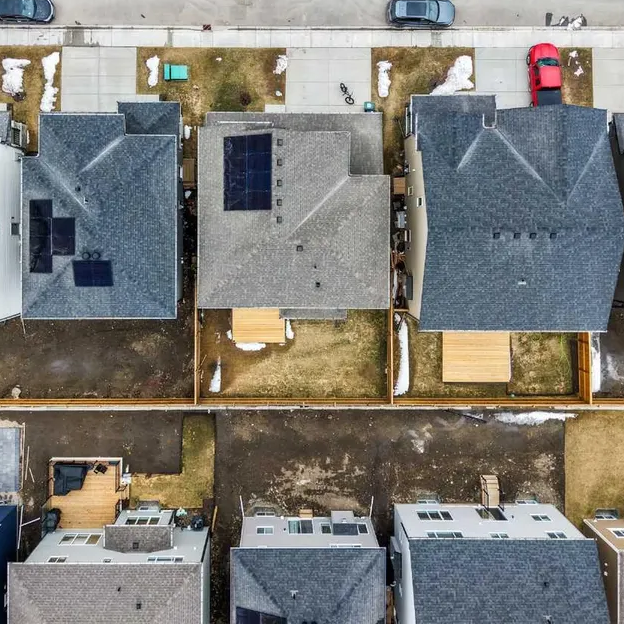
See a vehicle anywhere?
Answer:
Yes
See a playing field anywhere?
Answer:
No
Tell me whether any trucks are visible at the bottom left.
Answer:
No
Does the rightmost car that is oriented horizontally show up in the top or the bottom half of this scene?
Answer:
top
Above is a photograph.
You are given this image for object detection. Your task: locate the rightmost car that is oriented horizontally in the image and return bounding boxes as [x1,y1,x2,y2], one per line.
[387,0,456,29]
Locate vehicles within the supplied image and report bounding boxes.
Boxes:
[387,0,456,29]
[0,0,56,25]
[527,41,566,106]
